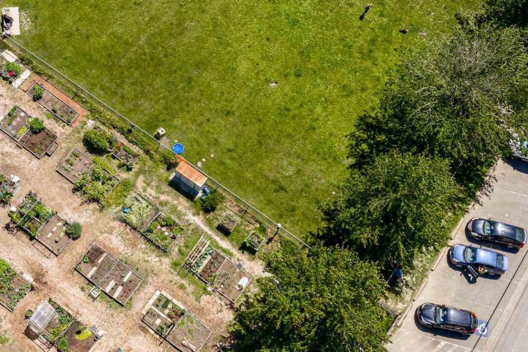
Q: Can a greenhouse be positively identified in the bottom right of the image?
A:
No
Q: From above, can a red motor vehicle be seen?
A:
No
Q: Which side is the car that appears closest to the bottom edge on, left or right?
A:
right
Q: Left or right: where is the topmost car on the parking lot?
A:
right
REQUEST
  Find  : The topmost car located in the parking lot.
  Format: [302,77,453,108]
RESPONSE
[465,216,527,250]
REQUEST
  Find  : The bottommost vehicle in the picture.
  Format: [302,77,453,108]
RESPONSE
[416,299,480,337]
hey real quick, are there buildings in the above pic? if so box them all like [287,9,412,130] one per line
[174,160,209,194]
[23,300,61,342]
